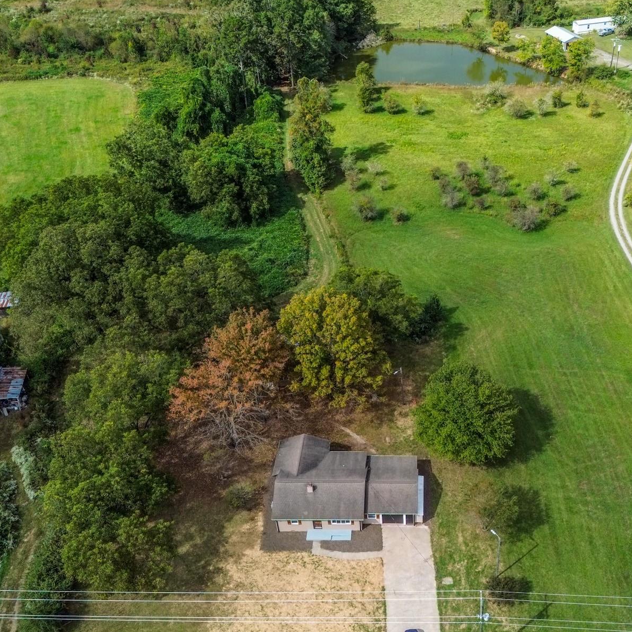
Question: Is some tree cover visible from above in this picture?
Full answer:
Yes, some tree cover is visible.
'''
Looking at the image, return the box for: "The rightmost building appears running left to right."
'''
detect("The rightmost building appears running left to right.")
[568,15,623,34]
